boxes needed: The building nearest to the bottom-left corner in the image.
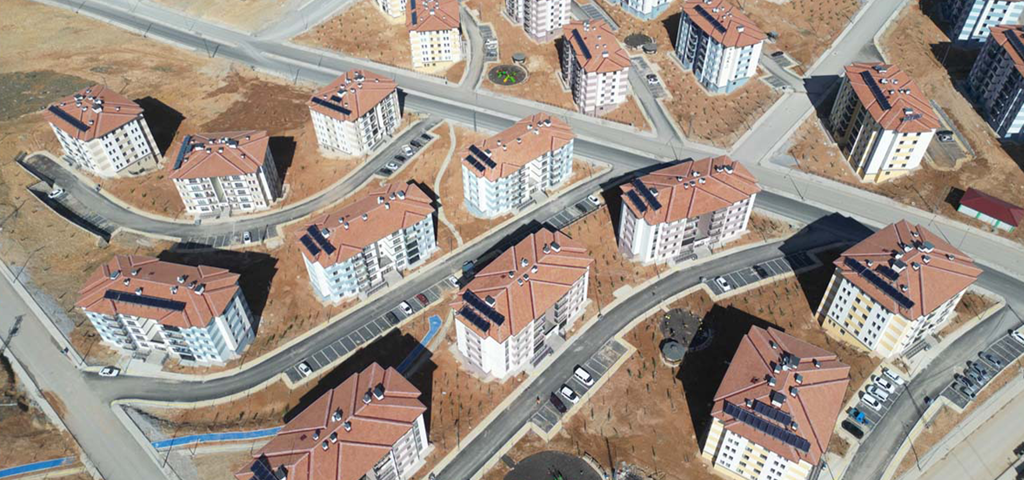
[74,254,255,370]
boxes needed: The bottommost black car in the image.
[841,417,865,438]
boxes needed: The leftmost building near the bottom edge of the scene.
[235,363,430,480]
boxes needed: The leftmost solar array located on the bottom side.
[106,290,186,313]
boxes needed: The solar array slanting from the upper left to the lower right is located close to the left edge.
[48,104,90,132]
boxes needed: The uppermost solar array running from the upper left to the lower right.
[693,4,727,35]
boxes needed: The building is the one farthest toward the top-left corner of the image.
[41,84,161,177]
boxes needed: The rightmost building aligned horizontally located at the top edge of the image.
[914,0,1023,45]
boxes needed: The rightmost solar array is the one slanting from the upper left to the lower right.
[1002,30,1024,61]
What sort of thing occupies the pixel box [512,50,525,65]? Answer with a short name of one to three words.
gazebo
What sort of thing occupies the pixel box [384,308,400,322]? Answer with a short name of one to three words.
car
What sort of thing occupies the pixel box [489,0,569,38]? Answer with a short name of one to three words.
building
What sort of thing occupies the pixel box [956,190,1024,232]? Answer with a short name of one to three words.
shed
